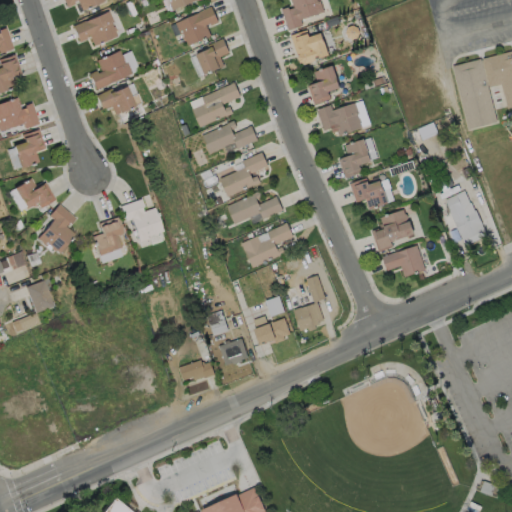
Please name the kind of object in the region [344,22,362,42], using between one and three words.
gazebo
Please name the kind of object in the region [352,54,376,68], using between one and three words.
swimming pool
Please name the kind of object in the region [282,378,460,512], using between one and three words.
baseball field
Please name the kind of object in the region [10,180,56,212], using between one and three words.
house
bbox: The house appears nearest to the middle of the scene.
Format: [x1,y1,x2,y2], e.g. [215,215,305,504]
[242,224,293,268]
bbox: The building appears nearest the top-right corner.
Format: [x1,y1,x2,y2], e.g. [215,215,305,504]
[454,52,512,128]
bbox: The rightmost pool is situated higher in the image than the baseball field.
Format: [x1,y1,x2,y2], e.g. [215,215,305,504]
[398,172,416,198]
